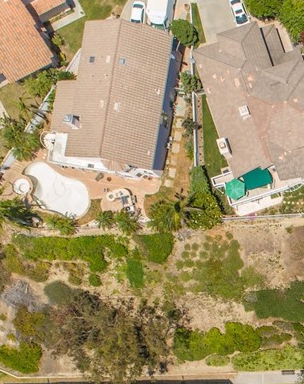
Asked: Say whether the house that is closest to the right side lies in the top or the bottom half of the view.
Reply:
top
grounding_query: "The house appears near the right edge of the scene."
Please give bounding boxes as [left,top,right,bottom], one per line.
[193,21,304,210]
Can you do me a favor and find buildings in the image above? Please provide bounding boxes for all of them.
[0,0,73,84]
[193,21,304,210]
[44,18,183,179]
